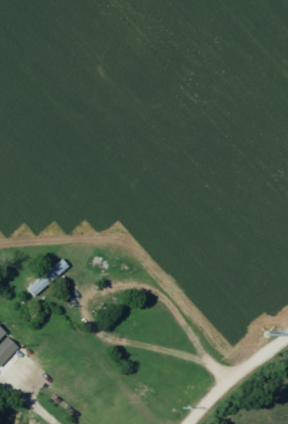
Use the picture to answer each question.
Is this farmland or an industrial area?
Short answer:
farmland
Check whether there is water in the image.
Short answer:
No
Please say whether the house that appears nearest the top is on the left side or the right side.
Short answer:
left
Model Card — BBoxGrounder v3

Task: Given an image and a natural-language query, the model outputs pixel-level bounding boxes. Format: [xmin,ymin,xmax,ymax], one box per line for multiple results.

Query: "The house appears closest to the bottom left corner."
[0,336,20,366]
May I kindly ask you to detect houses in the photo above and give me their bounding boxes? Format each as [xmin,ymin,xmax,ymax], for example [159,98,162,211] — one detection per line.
[0,336,20,366]
[27,258,70,297]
